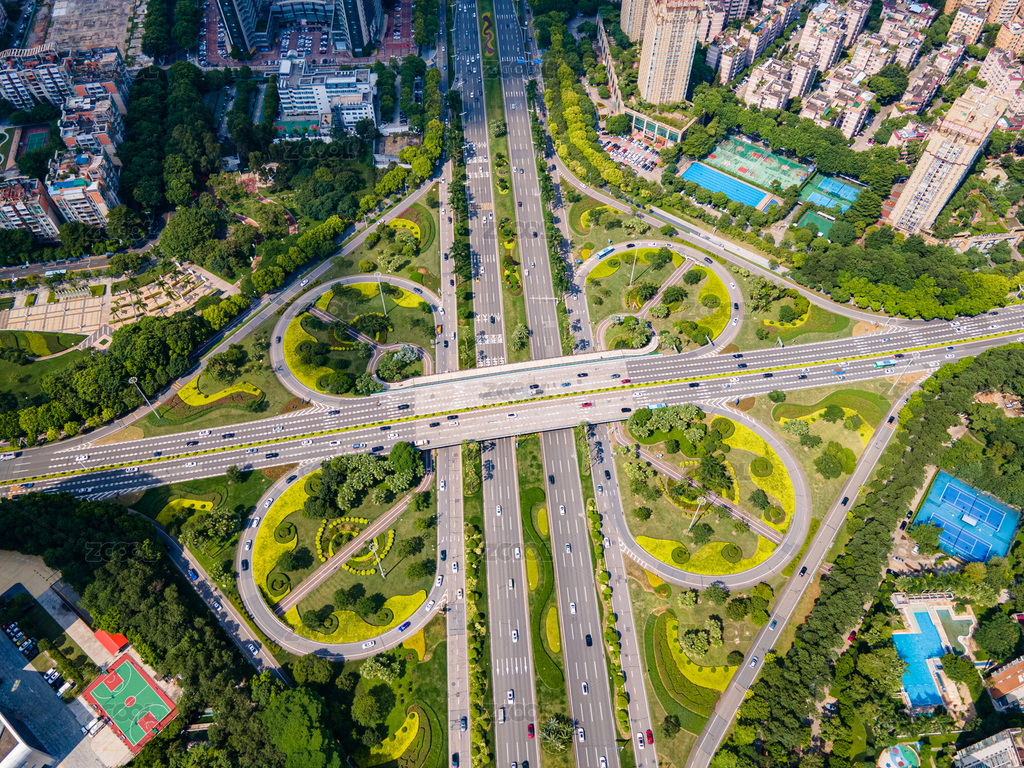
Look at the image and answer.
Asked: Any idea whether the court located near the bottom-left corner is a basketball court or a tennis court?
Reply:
basketball court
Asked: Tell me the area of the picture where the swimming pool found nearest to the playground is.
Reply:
bottom right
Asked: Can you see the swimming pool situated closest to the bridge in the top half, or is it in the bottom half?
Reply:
top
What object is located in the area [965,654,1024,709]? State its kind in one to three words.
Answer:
building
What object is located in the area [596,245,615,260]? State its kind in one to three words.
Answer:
vehicle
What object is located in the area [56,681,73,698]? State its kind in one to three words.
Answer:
vehicle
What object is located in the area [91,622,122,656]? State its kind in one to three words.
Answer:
shed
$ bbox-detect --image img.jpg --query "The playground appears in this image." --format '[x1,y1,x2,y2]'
[879,745,920,768]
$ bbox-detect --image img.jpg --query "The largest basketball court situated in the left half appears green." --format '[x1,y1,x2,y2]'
[81,653,178,754]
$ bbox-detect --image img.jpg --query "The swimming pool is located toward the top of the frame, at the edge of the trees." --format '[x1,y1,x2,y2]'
[671,156,783,214]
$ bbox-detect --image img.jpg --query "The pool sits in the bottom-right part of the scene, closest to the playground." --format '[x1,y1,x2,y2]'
[890,592,979,726]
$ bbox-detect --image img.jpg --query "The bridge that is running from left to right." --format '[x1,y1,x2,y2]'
[377,345,657,455]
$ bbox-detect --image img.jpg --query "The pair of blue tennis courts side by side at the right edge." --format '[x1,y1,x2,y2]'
[913,466,1024,563]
